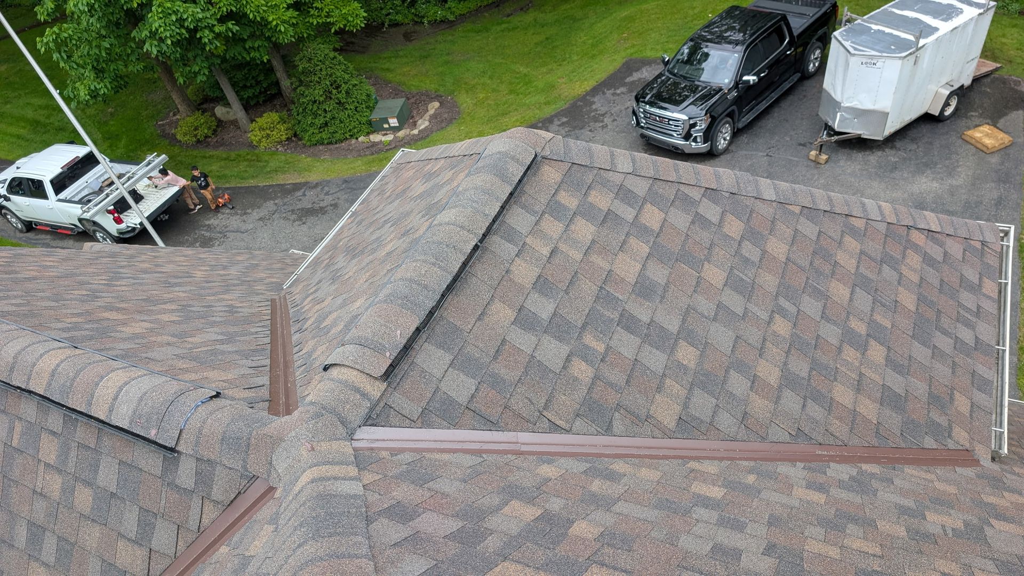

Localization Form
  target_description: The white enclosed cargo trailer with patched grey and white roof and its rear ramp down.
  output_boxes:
[811,0,1014,157]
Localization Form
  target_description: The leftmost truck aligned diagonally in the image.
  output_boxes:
[635,0,838,151]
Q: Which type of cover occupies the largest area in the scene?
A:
buildings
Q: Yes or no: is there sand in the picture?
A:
No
